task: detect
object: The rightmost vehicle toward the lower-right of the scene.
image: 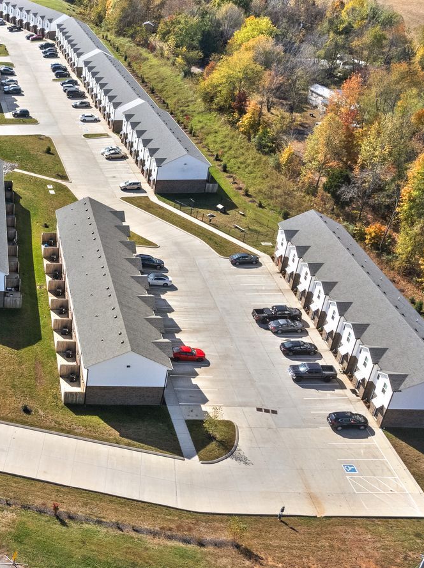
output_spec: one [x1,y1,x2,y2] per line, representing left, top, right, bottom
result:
[325,411,371,431]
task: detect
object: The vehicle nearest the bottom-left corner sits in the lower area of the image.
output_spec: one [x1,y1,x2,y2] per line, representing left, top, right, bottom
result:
[170,346,208,363]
